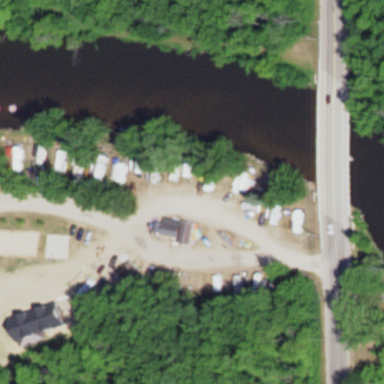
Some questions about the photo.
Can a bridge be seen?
Yes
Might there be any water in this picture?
Yes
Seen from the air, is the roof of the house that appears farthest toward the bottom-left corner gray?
Yes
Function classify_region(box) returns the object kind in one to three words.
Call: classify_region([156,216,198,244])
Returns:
building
